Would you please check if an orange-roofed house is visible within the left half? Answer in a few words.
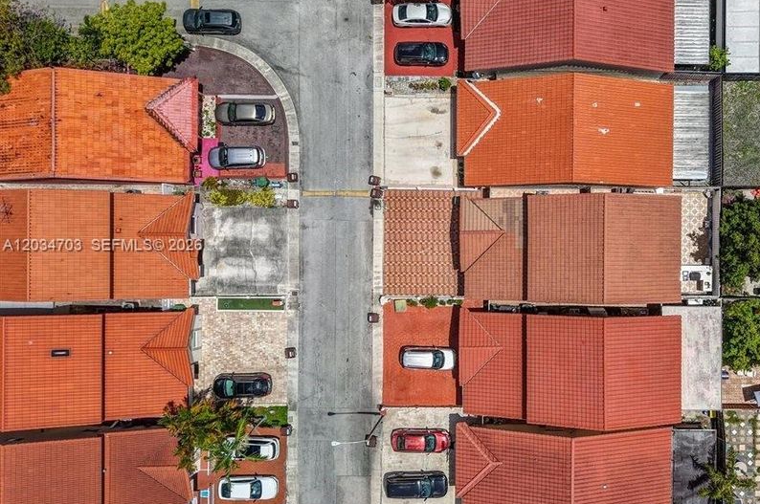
Yes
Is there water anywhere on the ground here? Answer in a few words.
No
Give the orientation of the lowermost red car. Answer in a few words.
from side to side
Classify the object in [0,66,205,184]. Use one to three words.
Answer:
house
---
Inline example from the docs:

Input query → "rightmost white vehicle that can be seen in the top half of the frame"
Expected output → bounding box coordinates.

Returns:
[393,0,452,28]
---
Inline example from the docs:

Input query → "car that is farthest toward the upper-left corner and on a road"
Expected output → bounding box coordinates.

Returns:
[184,5,244,36]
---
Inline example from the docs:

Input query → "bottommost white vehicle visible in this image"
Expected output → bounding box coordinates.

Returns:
[218,473,280,503]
